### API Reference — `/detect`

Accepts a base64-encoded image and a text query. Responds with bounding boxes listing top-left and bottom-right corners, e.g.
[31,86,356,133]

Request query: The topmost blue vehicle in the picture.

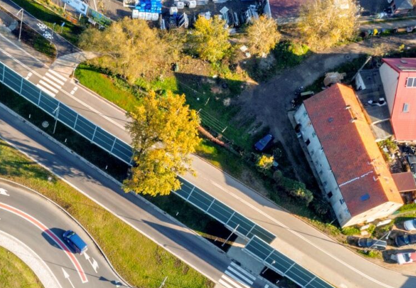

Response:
[256,133,274,153]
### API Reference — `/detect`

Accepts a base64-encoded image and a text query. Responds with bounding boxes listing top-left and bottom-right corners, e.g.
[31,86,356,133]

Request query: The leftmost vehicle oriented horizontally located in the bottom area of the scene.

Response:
[352,236,385,251]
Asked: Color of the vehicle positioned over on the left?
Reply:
blue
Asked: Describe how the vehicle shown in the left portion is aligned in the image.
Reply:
diagonally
